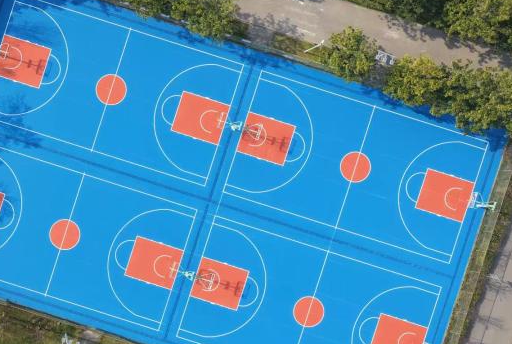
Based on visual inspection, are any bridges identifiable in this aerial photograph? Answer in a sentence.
No, this view has no bridge in it.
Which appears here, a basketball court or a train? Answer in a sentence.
There is a basketball court in the scene.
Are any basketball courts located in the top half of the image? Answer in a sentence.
Yes, in the top half of the image there is a basketball court.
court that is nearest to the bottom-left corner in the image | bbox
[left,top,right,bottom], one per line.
[0,134,206,344]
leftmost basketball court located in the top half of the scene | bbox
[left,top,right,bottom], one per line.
[0,0,253,196]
